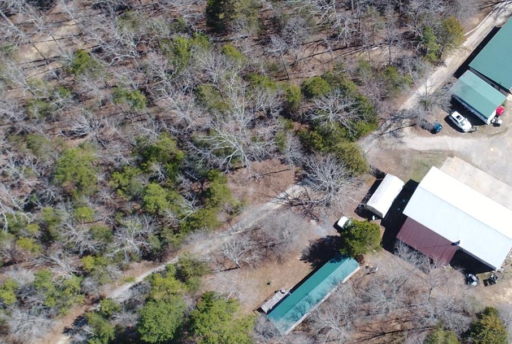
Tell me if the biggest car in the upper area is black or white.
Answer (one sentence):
The biggest car in the upper area looks white in the image.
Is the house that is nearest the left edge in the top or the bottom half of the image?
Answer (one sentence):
It is in the bottom half that the house that is nearest the left edge appears.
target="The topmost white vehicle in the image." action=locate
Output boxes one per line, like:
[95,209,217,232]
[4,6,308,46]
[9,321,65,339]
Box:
[450,110,474,131]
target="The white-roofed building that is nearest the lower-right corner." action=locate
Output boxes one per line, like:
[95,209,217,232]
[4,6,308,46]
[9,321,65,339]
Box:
[402,166,512,275]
